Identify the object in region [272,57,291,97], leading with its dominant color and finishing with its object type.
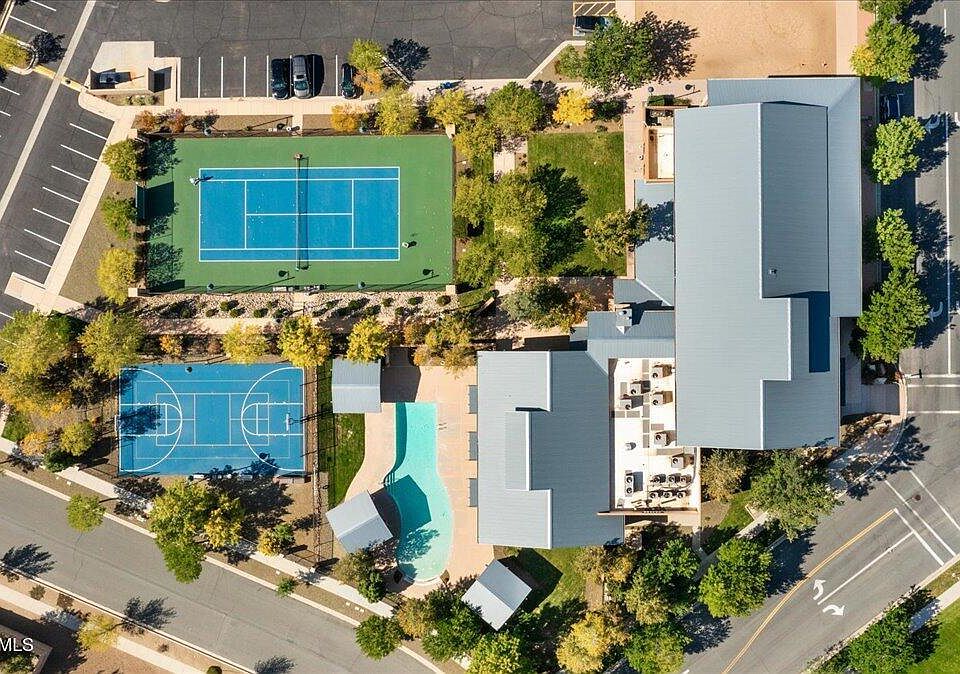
black car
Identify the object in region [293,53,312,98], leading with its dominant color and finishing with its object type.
gray car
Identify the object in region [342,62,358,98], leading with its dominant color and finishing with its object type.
black car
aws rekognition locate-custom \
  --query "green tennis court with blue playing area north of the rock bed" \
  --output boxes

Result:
[145,135,453,292]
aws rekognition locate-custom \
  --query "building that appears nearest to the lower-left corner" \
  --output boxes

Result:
[326,491,392,553]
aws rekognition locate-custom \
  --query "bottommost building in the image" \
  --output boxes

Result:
[462,558,532,630]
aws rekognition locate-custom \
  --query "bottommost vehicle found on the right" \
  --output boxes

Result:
[881,87,902,126]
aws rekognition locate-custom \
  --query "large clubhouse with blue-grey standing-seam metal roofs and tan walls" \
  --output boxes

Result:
[469,78,862,549]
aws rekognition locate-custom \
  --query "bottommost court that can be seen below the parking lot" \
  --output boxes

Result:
[118,363,305,474]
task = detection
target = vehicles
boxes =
[272,57,291,97]
[573,13,616,33]
[293,53,312,98]
[342,62,358,98]
[881,87,902,126]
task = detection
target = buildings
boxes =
[469,78,862,549]
[331,357,381,413]
[326,491,392,553]
[462,558,532,630]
